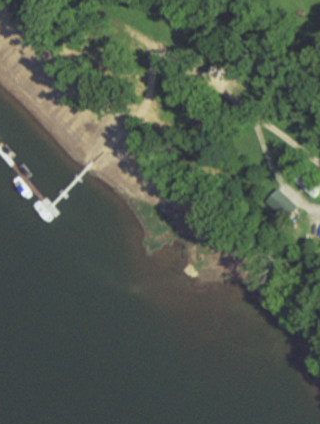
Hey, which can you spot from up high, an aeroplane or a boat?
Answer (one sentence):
This aerial view contains a boat.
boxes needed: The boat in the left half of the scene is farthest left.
[0,140,16,158]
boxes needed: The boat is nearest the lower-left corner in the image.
[32,201,54,224]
